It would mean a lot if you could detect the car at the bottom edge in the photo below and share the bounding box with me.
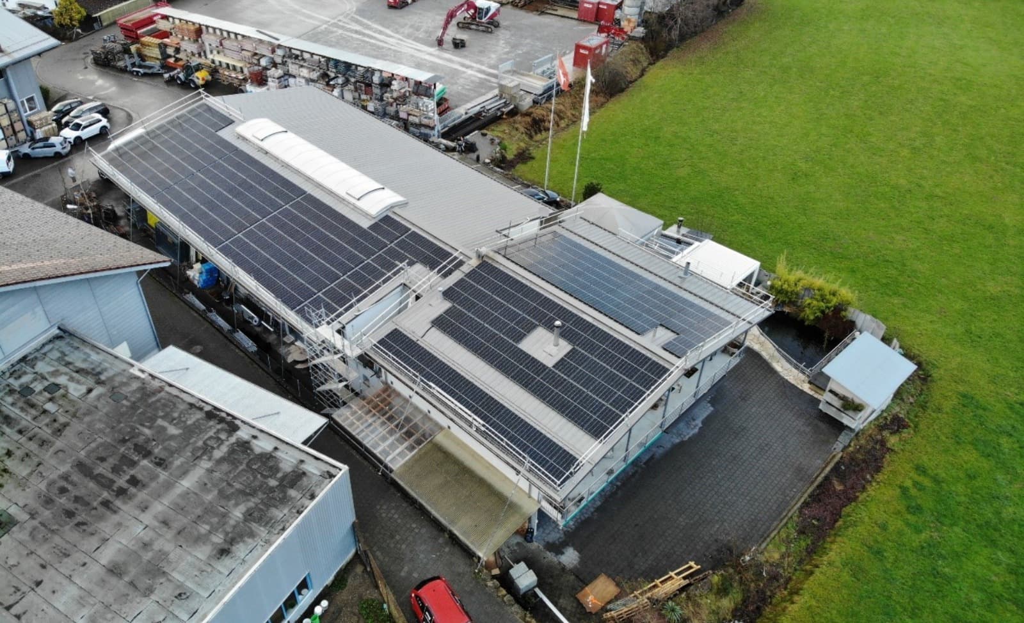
[414,579,474,623]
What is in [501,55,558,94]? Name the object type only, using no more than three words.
trailer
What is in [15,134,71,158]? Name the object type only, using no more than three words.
car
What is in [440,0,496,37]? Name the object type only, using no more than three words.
work vehicle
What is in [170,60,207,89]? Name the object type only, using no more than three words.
work vehicle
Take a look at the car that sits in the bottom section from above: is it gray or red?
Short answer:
red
